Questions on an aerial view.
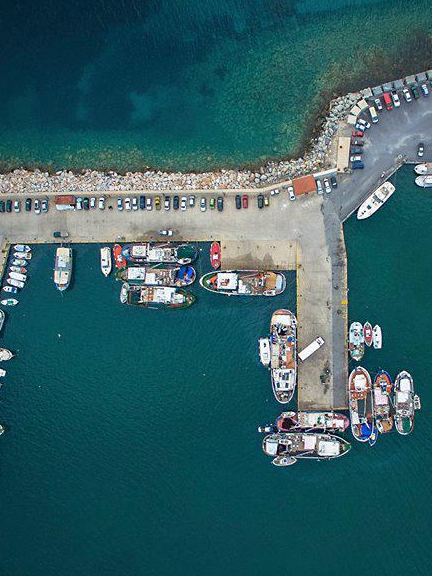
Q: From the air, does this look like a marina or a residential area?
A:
marina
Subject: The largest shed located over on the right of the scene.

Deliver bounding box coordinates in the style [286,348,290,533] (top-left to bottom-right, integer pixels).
[292,175,317,196]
